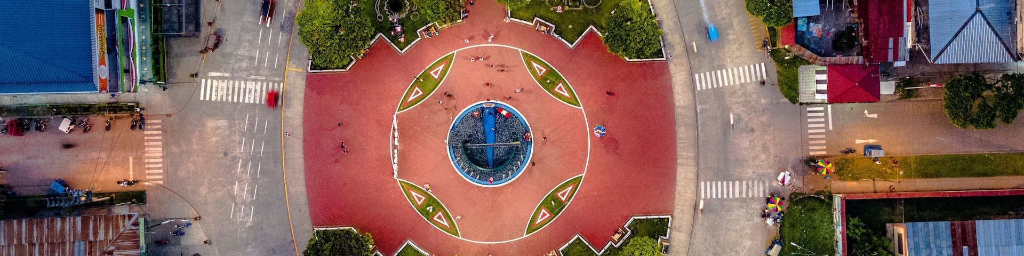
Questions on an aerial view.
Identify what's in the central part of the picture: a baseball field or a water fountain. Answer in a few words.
water fountain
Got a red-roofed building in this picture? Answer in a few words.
Yes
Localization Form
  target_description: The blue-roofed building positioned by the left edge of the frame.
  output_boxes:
[0,0,141,96]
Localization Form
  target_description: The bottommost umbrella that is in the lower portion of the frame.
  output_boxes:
[768,197,782,211]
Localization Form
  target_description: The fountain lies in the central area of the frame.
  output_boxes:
[447,101,533,188]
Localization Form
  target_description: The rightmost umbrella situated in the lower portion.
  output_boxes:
[816,159,831,175]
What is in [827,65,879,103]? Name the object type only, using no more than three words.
building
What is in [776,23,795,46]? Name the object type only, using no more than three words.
shed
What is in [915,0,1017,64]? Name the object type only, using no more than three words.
house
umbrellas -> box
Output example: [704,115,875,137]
[768,197,782,211]
[816,159,831,175]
